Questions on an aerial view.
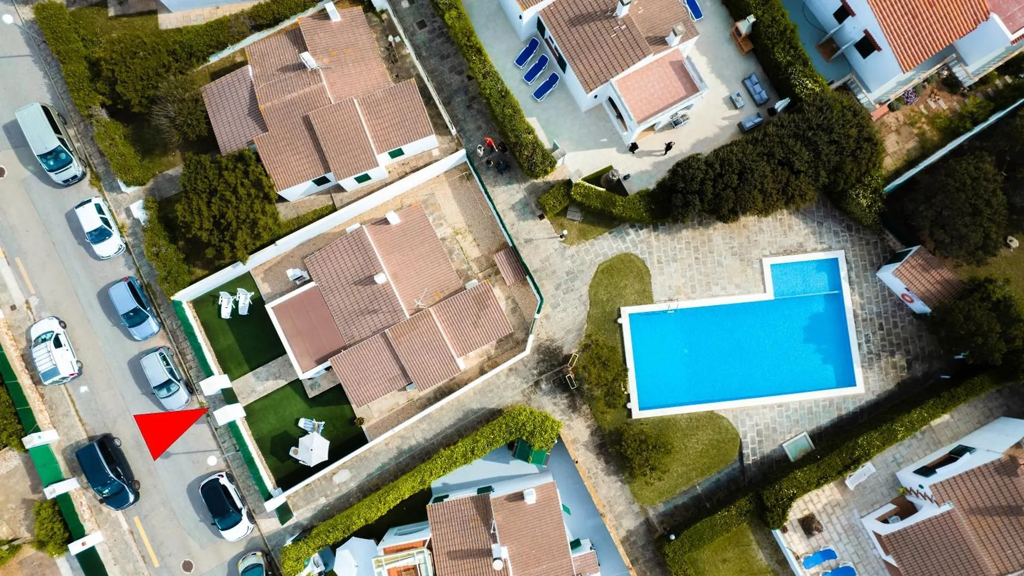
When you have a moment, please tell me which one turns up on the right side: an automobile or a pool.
pool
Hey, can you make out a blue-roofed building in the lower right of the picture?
No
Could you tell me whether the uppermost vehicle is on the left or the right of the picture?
left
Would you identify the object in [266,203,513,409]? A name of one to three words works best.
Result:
house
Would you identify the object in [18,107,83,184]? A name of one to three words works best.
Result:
vehicle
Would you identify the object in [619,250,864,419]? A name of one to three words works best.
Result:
swimming pool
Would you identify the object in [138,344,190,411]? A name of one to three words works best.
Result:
car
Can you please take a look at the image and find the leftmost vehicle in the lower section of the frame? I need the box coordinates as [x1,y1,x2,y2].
[26,317,81,386]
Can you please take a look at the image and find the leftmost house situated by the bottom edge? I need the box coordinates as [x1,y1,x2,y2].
[371,464,600,576]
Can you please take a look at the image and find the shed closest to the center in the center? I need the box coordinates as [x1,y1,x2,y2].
[493,246,527,286]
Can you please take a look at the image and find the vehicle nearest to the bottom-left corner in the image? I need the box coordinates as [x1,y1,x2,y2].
[76,437,135,510]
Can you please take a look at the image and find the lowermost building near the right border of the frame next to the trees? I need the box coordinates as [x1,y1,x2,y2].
[860,415,1024,576]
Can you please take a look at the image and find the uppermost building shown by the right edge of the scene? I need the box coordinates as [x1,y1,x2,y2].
[807,0,1024,95]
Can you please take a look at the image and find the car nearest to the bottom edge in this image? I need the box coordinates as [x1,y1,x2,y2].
[240,550,276,576]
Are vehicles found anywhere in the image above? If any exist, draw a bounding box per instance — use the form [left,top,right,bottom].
[76,437,135,510]
[240,550,276,576]
[18,107,83,184]
[138,344,190,411]
[200,474,250,540]
[26,317,81,386]
[105,276,159,341]
[72,194,125,259]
